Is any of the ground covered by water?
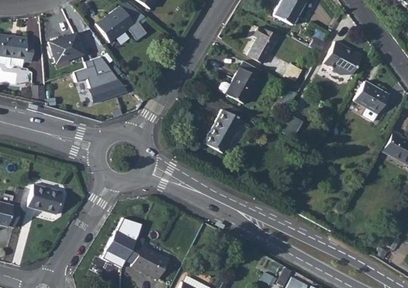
No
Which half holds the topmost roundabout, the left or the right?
left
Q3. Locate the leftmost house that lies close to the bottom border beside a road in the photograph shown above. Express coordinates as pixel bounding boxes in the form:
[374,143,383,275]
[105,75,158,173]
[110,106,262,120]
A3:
[83,218,142,274]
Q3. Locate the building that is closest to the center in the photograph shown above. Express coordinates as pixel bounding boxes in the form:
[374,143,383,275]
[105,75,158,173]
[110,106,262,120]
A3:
[206,110,240,154]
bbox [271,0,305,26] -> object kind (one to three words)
house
